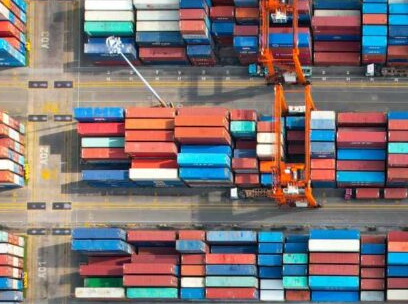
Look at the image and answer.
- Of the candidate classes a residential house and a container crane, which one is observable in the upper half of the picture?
container crane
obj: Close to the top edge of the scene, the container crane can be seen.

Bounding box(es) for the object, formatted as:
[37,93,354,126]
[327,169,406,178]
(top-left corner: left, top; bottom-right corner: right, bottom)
[258,0,315,84]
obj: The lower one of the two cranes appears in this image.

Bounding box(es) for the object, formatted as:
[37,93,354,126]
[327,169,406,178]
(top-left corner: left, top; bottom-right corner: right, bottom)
[270,85,326,209]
